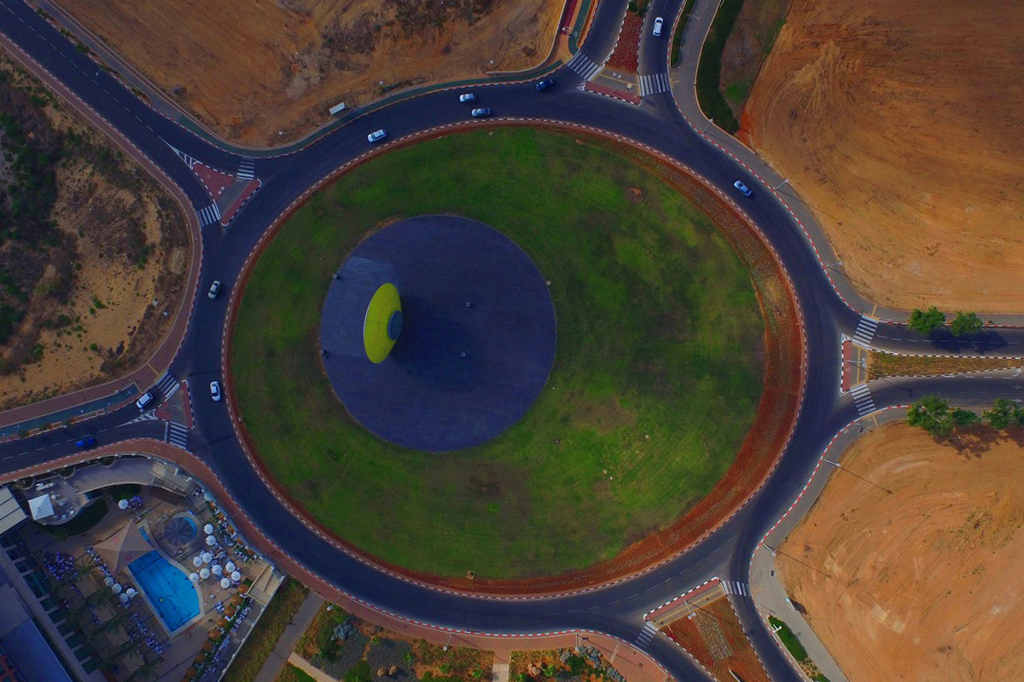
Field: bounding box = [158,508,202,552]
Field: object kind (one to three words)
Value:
swimming pool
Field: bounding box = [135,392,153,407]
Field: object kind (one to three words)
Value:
car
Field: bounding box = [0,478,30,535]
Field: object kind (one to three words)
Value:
building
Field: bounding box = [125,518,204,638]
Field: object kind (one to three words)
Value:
swimming pool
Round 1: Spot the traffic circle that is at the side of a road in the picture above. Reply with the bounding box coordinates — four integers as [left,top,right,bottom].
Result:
[180,75,848,636]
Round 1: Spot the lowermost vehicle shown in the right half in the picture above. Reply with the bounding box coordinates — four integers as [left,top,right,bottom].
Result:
[735,180,752,196]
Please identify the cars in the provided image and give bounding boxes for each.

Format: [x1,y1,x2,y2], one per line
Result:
[208,281,219,298]
[735,180,752,196]
[135,392,153,407]
[472,107,490,116]
[75,438,93,448]
[654,17,663,35]
[458,92,477,101]
[536,78,554,90]
[210,382,220,400]
[367,129,385,141]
